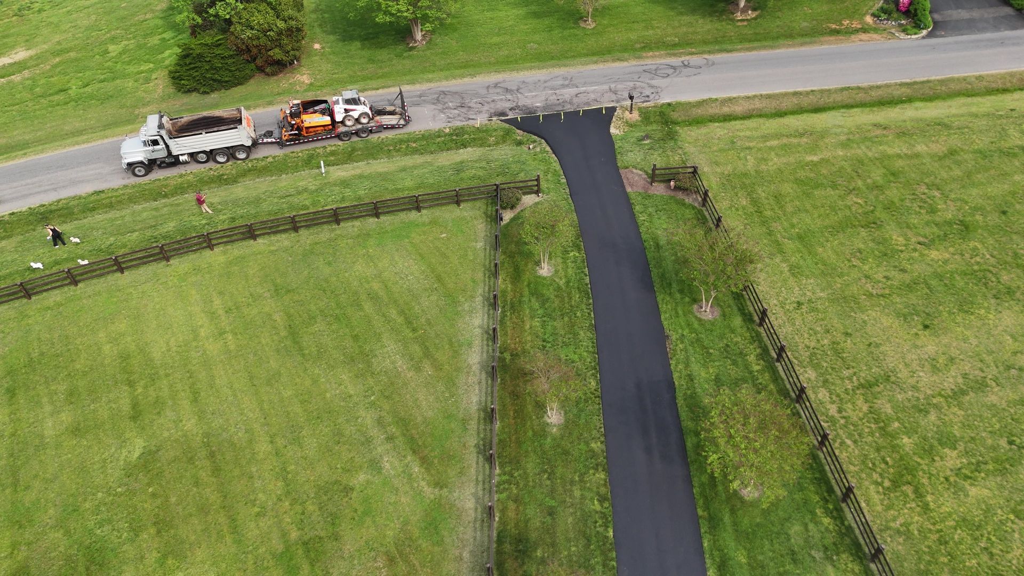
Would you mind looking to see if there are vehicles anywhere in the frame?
Yes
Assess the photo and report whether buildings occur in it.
No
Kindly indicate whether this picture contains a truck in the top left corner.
Yes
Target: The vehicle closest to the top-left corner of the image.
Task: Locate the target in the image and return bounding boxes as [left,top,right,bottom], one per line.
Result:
[124,104,258,177]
